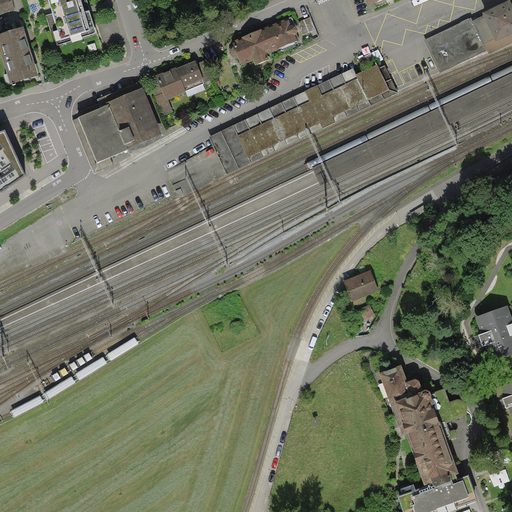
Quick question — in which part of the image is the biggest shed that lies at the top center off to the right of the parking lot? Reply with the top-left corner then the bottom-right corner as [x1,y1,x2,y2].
[210,64,396,174]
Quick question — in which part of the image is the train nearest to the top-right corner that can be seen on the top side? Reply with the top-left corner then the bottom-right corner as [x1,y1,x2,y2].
[307,64,512,168]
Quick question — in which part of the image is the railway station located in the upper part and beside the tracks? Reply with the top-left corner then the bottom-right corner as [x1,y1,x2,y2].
[0,74,512,326]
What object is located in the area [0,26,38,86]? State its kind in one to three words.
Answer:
house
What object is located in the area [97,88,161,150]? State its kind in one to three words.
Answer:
building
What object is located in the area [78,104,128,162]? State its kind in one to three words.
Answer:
building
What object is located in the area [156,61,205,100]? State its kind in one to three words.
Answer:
house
